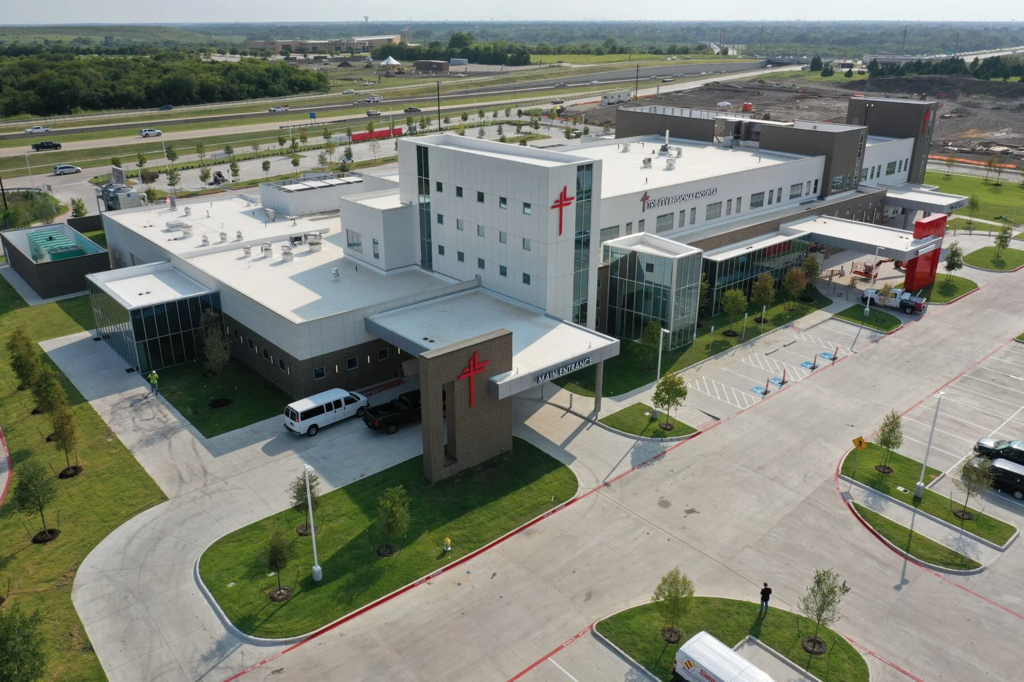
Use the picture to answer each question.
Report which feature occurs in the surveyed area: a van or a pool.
van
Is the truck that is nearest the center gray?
No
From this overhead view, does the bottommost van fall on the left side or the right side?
right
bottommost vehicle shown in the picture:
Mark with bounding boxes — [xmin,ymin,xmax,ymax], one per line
[673,632,789,682]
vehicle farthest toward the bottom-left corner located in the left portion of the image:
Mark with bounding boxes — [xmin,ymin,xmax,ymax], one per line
[287,384,378,431]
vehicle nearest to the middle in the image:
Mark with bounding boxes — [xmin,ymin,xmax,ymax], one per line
[368,386,421,430]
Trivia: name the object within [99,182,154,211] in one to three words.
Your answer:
cooling tower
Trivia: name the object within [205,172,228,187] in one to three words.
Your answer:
work vehicle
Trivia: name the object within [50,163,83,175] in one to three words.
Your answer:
vehicle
